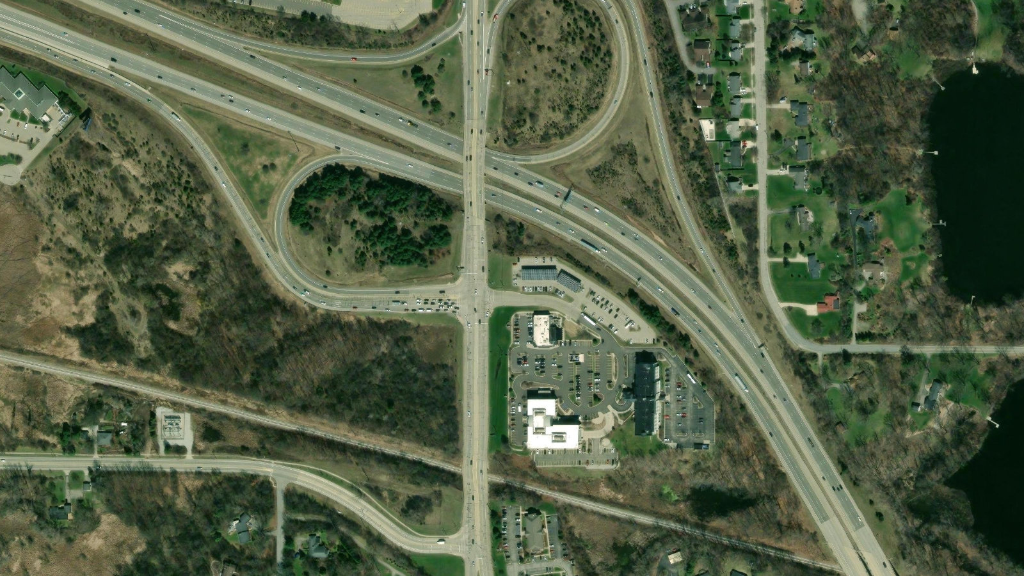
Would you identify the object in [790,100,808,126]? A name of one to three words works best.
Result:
house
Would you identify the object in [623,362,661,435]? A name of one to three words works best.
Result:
building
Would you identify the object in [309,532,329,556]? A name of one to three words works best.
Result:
house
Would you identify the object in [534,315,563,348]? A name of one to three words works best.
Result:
building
